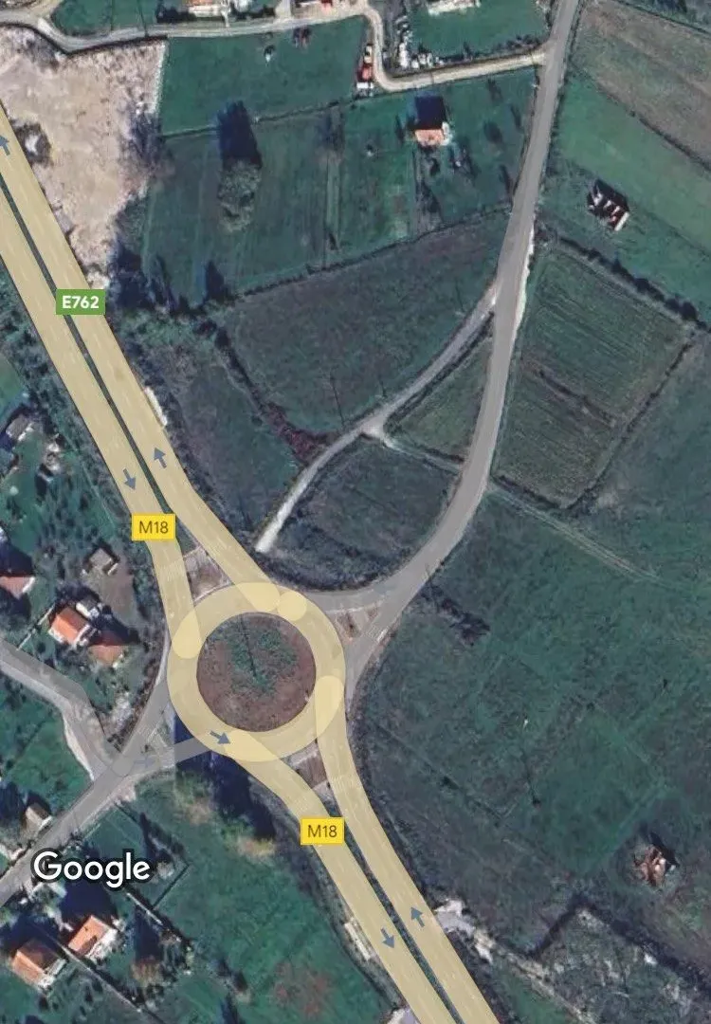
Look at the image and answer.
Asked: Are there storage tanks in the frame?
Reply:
No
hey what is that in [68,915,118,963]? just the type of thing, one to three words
house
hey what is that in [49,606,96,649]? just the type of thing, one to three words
house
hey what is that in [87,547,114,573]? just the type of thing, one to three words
shed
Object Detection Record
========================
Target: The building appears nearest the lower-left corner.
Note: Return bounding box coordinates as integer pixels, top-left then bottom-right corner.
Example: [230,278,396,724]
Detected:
[11,941,64,990]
